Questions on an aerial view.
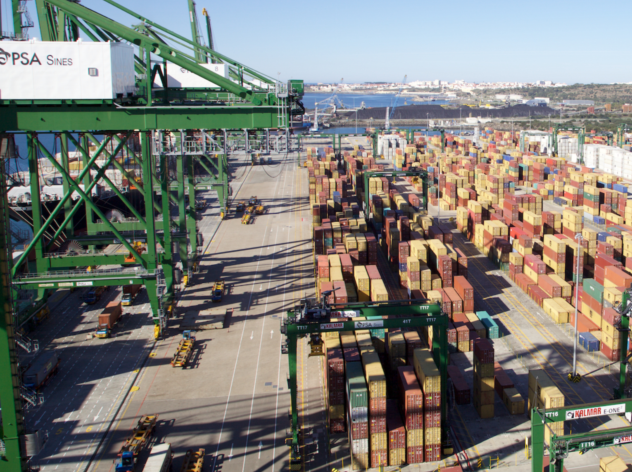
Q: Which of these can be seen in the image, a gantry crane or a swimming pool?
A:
gantry crane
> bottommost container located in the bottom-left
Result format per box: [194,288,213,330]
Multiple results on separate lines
[137,433,169,472]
